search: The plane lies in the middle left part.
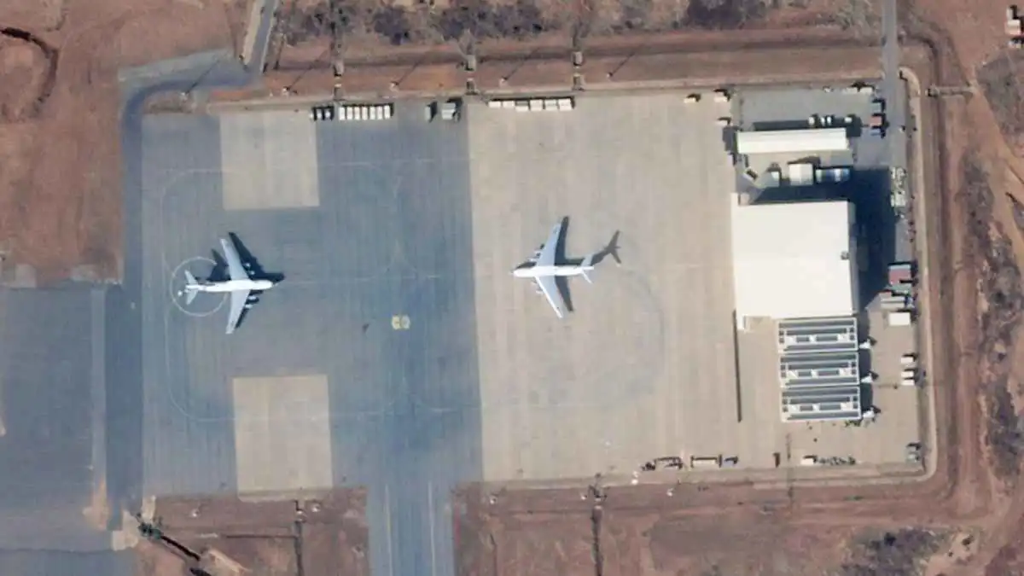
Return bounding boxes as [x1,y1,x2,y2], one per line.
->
[184,237,278,333]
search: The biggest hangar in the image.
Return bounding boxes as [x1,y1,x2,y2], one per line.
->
[731,193,860,331]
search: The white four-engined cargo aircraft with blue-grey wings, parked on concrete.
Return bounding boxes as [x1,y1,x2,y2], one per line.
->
[511,225,595,318]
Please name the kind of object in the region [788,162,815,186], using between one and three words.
house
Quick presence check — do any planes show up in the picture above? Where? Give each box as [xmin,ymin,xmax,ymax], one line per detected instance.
[511,225,595,318]
[184,237,278,333]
